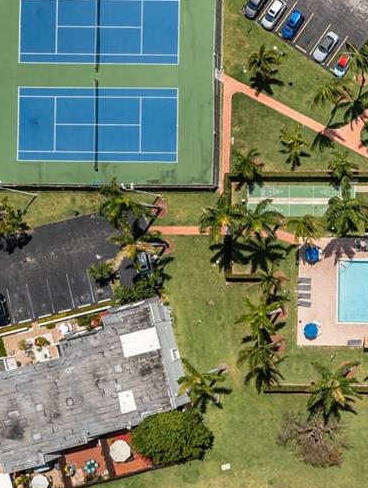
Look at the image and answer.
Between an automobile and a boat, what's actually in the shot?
automobile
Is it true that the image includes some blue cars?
Yes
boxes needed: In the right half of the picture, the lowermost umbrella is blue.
[303,322,319,339]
